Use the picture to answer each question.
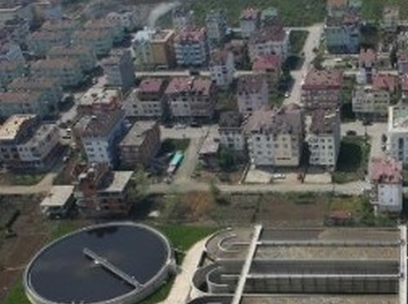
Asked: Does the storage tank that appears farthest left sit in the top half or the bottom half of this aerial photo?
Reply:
bottom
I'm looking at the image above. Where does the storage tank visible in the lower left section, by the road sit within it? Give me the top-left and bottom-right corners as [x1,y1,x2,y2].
[24,221,178,304]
